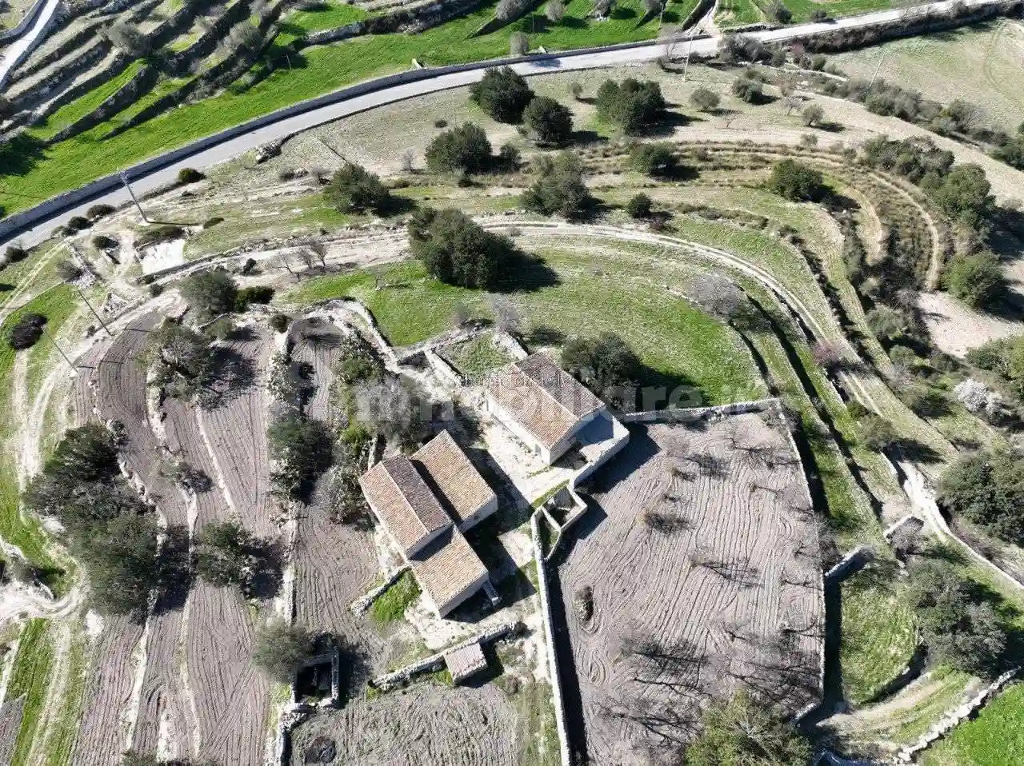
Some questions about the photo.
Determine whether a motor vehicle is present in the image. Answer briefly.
No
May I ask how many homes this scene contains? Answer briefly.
two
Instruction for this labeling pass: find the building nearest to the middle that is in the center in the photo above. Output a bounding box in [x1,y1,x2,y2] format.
[487,349,606,464]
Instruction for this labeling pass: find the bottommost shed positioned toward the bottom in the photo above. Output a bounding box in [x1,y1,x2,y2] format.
[443,642,488,683]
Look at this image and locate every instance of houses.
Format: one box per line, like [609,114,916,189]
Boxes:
[487,349,606,464]
[357,429,497,617]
